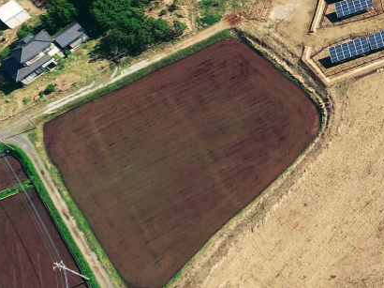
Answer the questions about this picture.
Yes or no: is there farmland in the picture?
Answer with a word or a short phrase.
Yes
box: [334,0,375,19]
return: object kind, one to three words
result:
solar array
